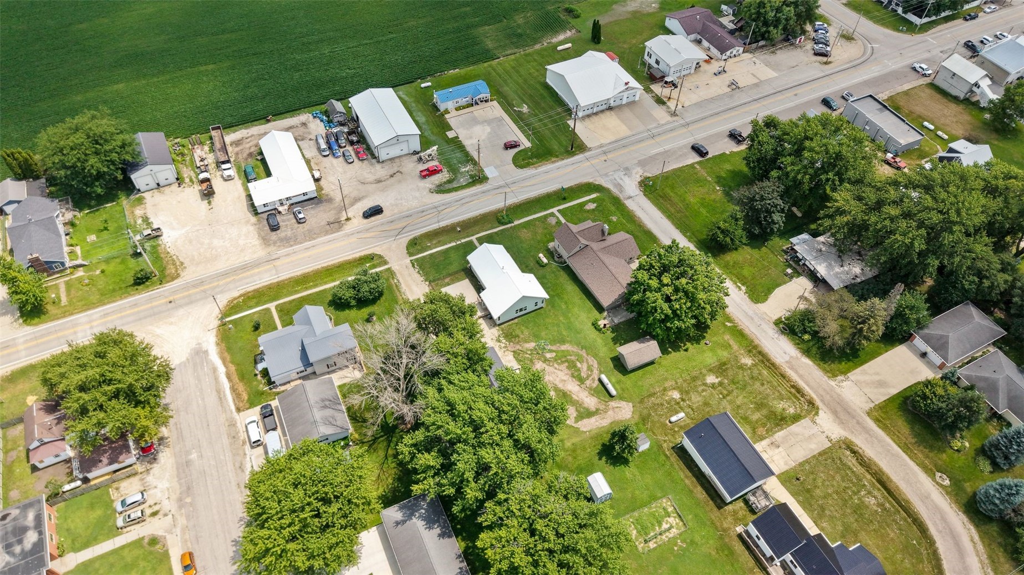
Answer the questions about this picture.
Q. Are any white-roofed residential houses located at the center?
Yes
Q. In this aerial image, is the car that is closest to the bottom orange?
Yes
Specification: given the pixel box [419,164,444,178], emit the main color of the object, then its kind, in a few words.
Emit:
red vehicle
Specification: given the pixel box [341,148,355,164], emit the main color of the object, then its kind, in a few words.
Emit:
gray car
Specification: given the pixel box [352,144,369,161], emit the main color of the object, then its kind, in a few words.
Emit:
red vehicle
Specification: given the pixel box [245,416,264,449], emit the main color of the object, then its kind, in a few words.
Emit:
white car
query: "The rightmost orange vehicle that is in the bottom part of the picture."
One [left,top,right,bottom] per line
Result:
[179,547,199,575]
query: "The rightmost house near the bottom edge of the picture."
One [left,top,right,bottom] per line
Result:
[749,502,898,575]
